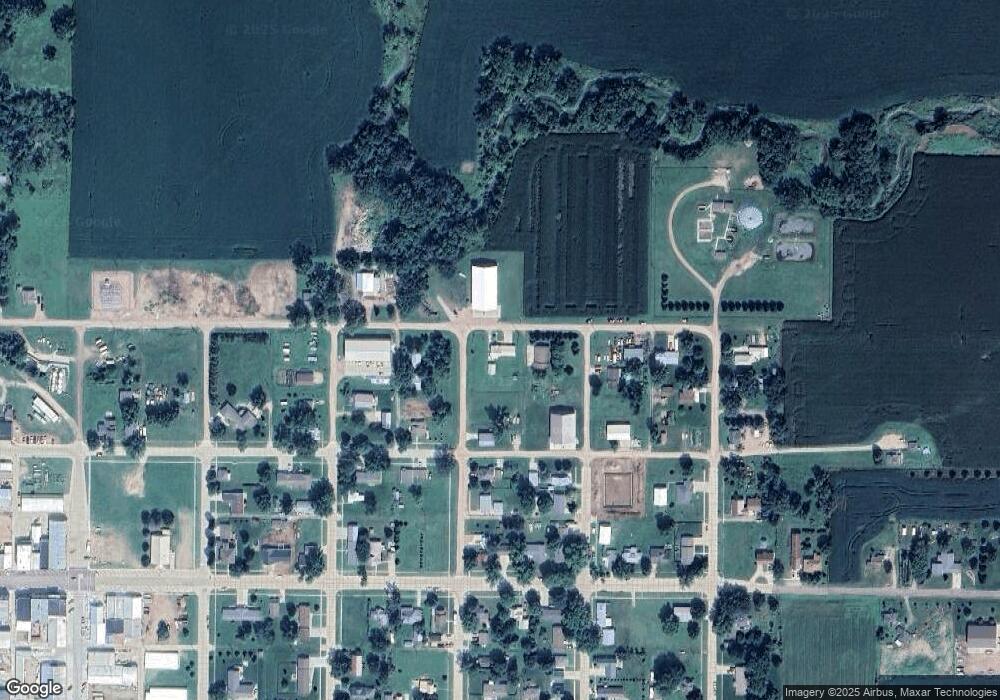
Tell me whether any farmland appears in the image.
Yes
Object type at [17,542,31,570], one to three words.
building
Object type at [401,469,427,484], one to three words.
house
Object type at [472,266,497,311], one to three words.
shed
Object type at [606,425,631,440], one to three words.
shed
